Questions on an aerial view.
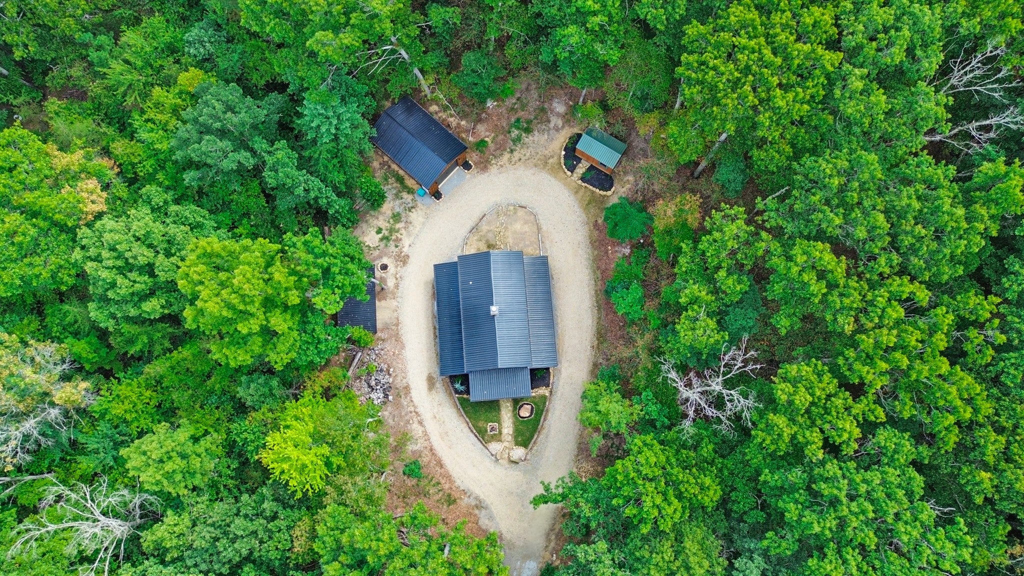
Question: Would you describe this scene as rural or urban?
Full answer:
It looks rural.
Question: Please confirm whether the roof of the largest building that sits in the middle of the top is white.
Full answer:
No, the roof of the largest building that sits in the middle of the top is actually blue.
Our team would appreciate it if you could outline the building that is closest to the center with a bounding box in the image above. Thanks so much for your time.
[433,250,557,402]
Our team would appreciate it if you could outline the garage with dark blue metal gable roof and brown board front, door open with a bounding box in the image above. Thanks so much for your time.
[369,96,468,195]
